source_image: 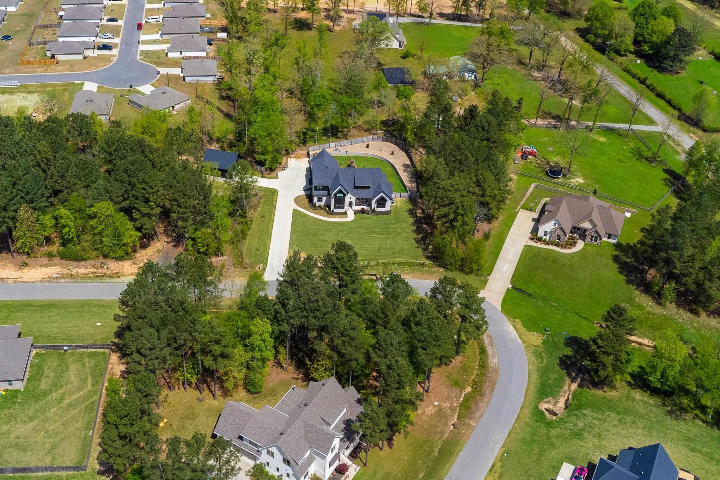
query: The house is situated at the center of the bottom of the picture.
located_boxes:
[211,374,374,480]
